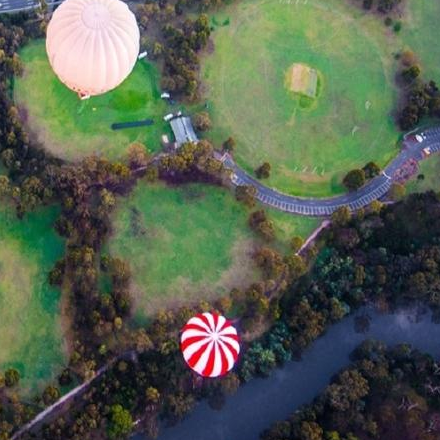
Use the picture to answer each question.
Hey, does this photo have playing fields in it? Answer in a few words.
Yes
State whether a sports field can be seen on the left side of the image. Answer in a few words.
Yes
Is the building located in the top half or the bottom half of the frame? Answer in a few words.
top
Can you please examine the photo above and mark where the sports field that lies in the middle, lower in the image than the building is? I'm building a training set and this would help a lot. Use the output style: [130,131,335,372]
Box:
[110,181,264,320]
